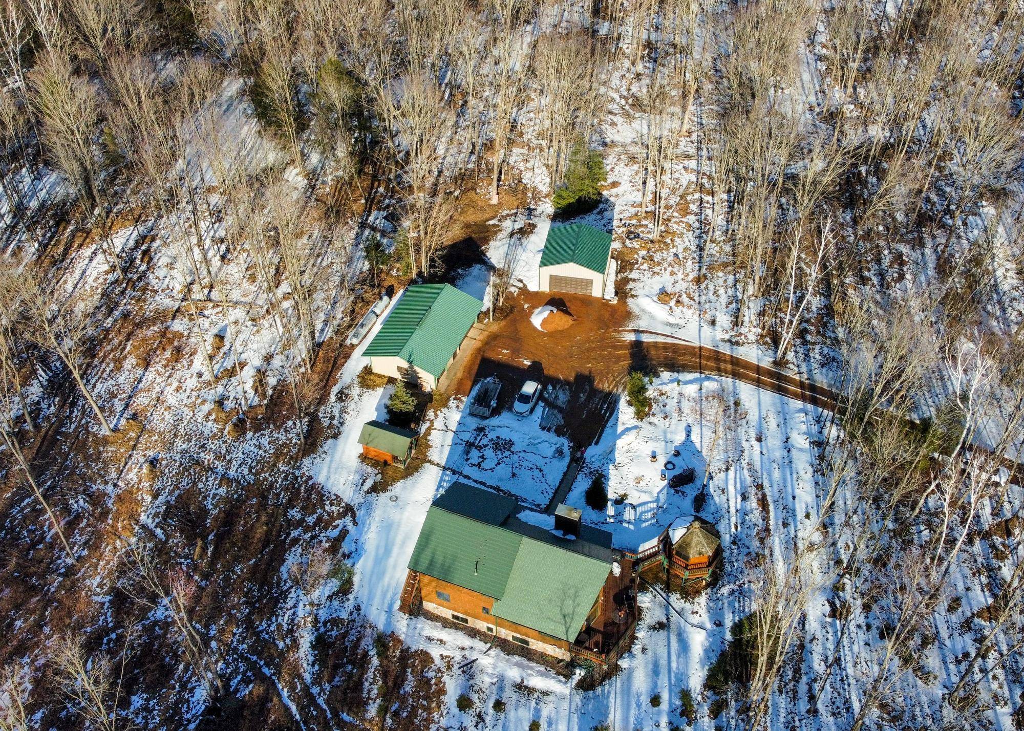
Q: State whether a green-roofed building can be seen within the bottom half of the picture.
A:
Yes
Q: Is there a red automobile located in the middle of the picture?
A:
No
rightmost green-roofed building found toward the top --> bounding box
[539,223,612,295]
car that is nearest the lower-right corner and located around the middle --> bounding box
[513,376,545,416]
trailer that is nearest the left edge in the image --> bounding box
[468,373,501,414]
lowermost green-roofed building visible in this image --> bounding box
[405,481,615,662]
